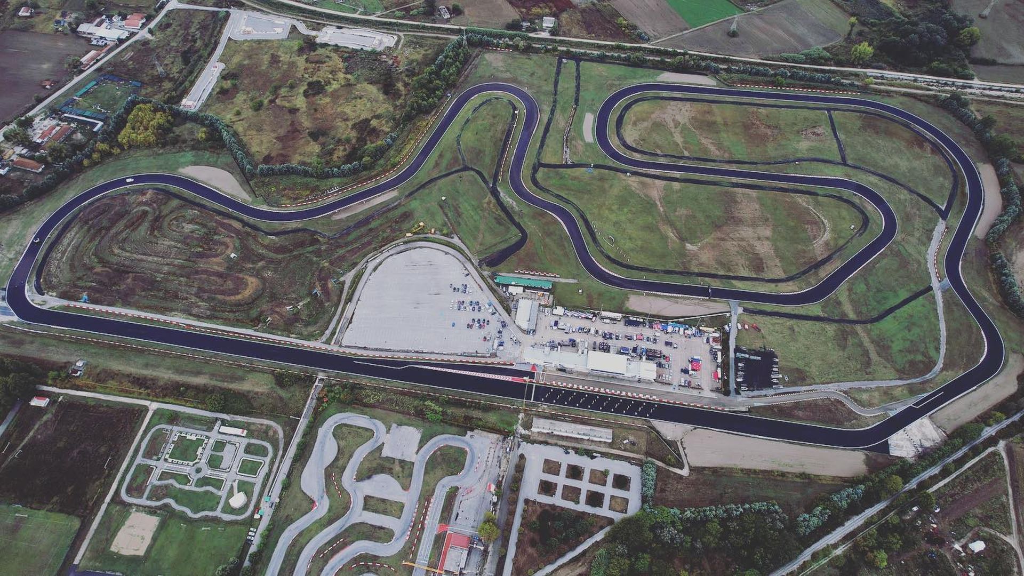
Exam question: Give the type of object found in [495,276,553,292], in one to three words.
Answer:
shed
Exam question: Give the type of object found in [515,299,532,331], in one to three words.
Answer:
building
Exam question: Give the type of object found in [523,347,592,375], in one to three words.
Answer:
building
